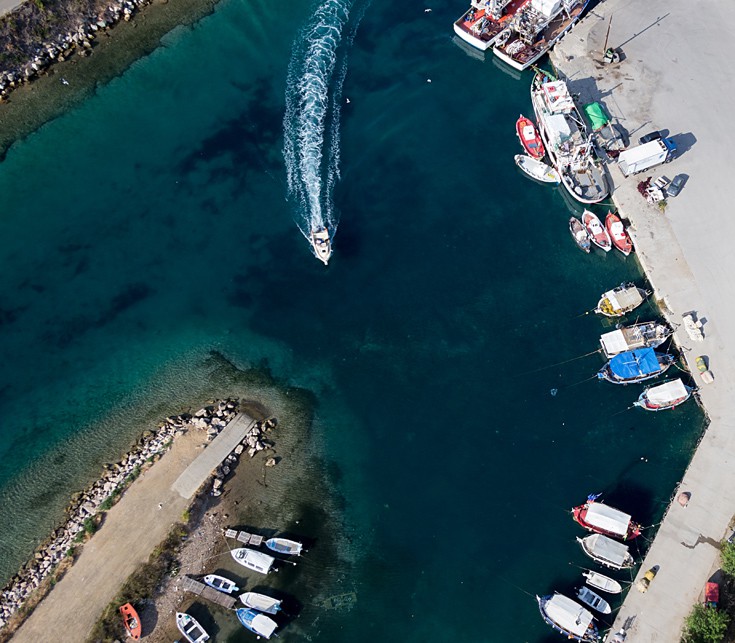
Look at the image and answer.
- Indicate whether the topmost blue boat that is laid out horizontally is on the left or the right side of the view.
right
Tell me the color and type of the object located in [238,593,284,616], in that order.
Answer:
white boat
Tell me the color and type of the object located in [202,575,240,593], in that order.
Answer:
white boat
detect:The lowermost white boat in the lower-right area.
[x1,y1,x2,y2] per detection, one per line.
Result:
[535,589,605,637]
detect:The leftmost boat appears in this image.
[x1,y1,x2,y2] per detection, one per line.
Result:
[121,602,138,638]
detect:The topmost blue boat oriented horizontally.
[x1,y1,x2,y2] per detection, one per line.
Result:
[598,346,675,385]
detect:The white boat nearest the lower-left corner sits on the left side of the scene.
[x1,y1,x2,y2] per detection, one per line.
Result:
[176,611,209,643]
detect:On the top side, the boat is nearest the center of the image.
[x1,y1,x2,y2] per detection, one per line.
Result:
[306,228,328,266]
